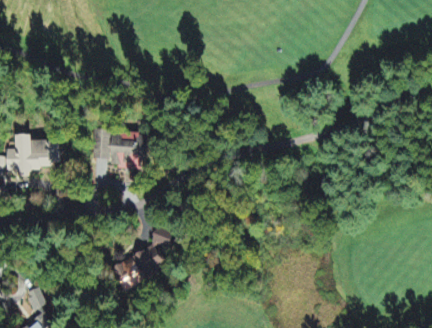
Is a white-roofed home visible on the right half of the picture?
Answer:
No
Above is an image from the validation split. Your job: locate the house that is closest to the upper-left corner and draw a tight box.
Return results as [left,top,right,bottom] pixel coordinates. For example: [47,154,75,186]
[0,134,60,180]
